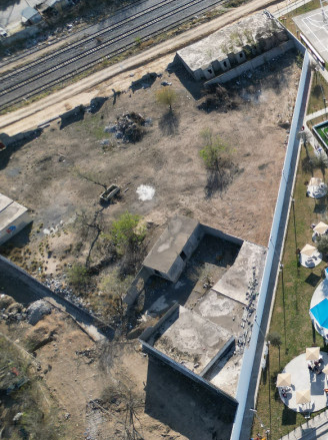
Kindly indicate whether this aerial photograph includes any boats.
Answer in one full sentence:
No, there isn't any boat down there.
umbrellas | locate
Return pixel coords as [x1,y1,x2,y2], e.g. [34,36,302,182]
[311,223,328,239]
[299,242,319,260]
[310,177,324,190]
[305,346,322,364]
[295,389,313,408]
[275,373,294,391]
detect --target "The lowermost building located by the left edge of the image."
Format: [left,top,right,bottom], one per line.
[0,193,36,245]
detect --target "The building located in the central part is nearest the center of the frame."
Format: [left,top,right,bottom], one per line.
[142,216,208,287]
